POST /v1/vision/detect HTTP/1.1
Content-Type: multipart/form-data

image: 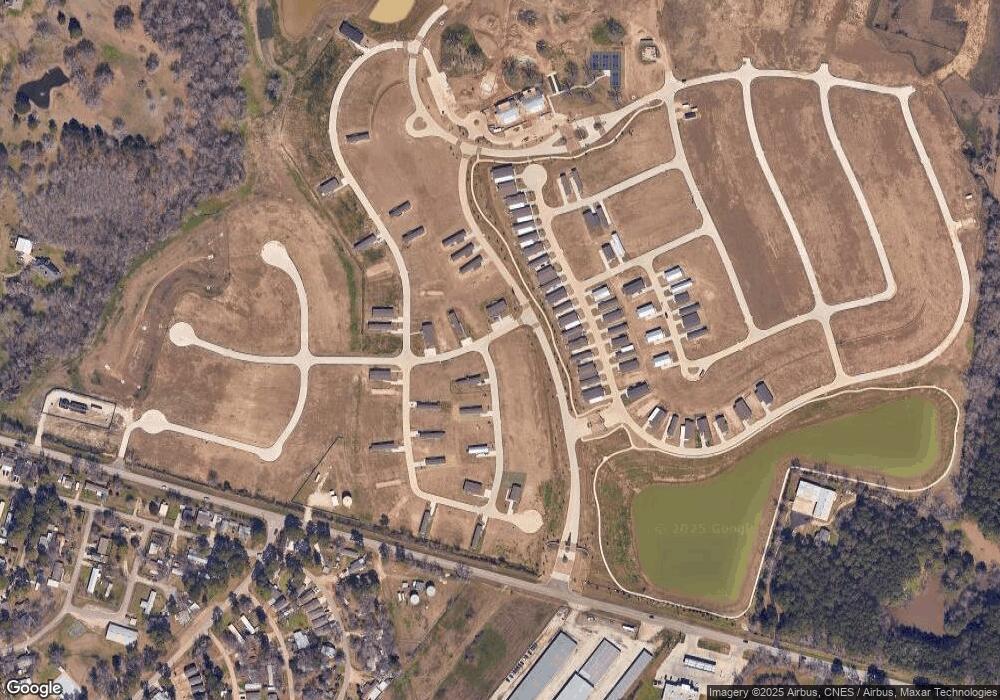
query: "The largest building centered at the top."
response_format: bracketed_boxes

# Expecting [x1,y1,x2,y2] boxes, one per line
[496,94,550,131]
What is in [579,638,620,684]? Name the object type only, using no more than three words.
building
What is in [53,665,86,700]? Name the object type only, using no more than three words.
house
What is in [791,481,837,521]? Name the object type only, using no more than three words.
building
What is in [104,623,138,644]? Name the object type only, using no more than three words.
house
